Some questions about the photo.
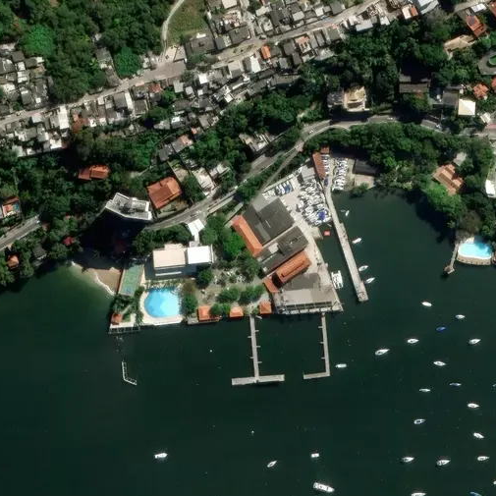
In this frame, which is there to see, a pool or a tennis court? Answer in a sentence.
This aerial view contains a pool.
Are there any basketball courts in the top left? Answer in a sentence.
No, I can find no basketball court in the top left.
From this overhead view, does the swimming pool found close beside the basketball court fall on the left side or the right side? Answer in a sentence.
The swimming pool found close beside the basketball court sits on the left side.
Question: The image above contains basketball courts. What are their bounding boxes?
[119,264,143,295]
